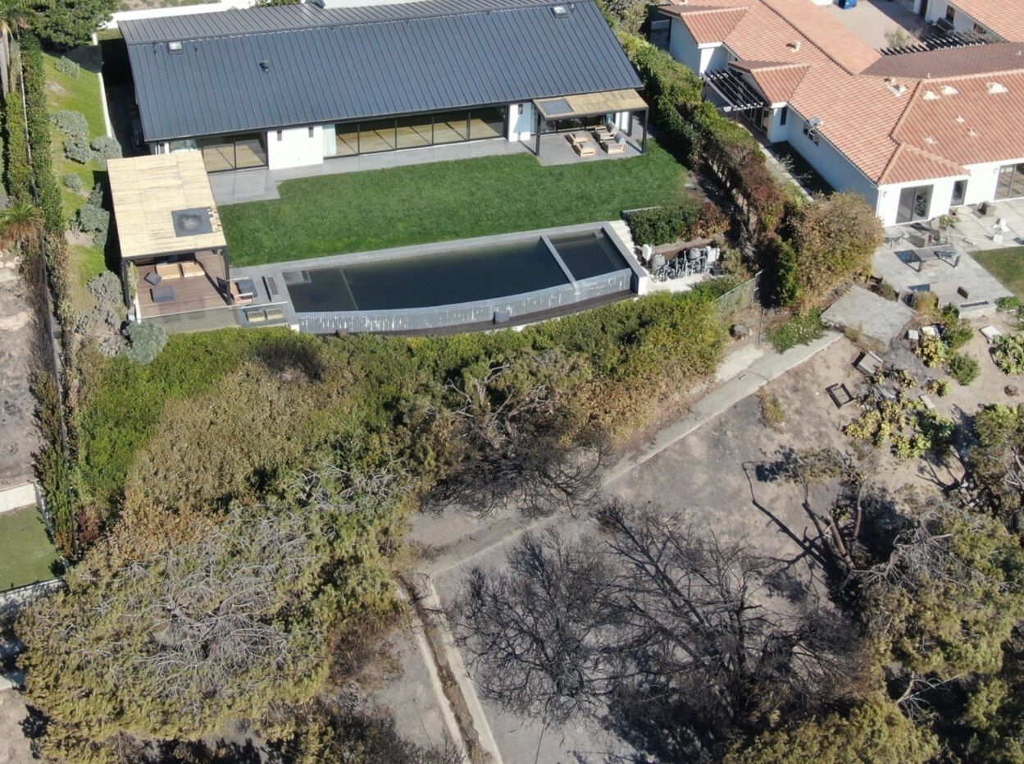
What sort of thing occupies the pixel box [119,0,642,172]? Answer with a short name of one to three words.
house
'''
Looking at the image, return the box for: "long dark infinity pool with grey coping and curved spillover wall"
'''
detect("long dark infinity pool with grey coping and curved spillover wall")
[232,220,650,361]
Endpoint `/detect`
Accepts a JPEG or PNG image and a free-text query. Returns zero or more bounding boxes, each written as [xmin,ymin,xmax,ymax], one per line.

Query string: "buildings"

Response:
[119,0,642,172]
[650,0,1024,227]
